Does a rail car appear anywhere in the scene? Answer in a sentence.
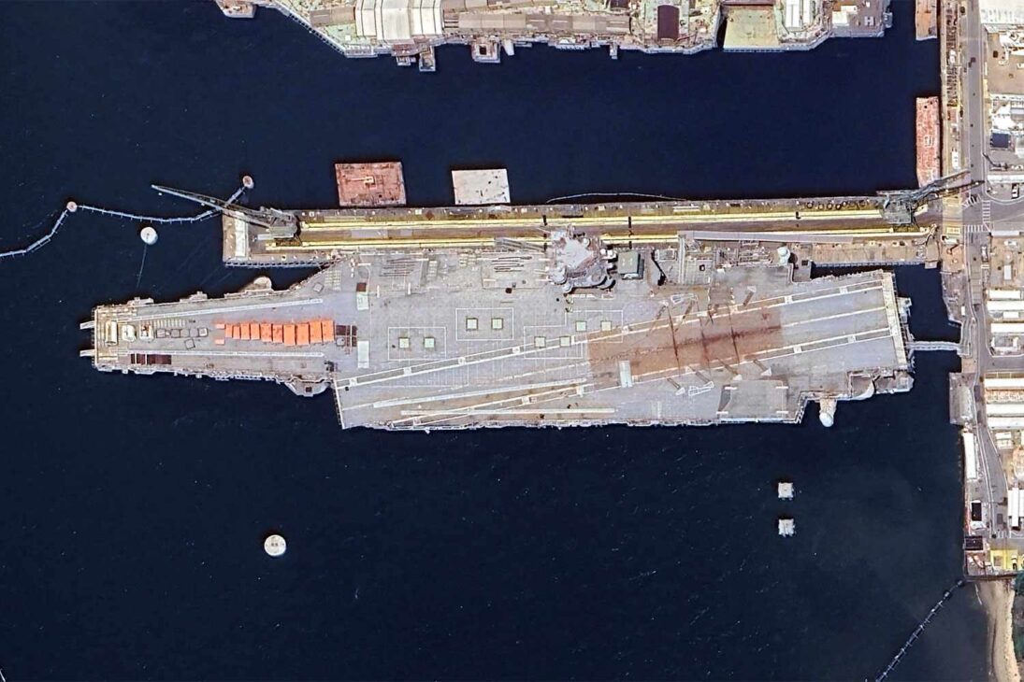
No, the scene contains no rail car.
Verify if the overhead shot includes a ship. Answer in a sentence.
Yes, a ship is visible in the scene.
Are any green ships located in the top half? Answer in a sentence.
No, there's no green ship to be seen in the top half.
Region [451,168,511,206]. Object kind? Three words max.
ship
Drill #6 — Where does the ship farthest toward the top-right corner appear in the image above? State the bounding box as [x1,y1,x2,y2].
[915,0,939,41]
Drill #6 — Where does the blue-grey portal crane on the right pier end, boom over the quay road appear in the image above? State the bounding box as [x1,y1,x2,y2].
[883,172,970,240]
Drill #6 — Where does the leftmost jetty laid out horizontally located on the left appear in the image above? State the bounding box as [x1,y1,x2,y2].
[78,205,223,222]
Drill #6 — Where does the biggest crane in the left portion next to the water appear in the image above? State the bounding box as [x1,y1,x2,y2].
[151,185,303,253]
